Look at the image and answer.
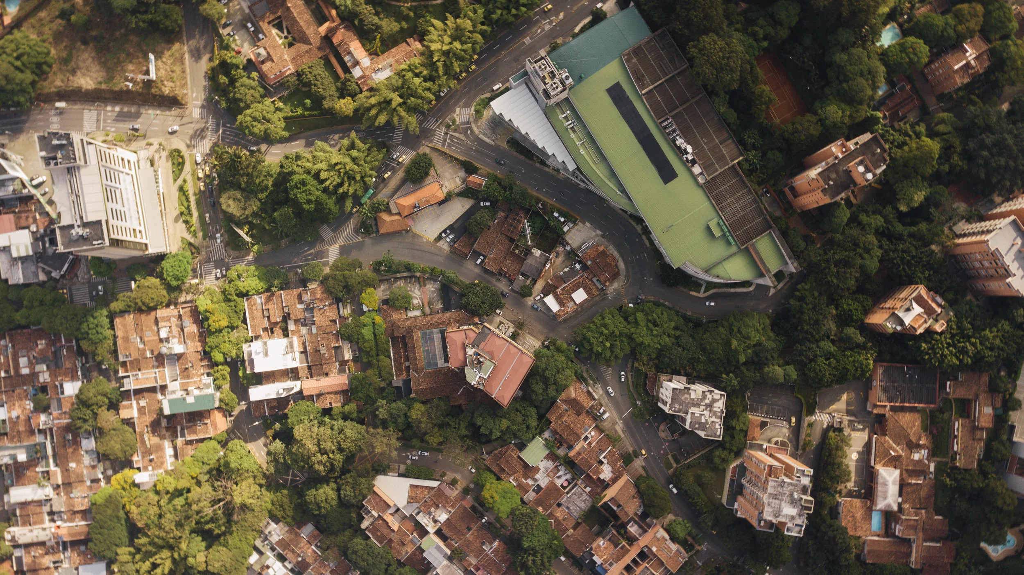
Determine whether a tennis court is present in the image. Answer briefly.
Yes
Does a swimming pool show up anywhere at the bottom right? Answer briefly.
Yes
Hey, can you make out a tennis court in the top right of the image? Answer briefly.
Yes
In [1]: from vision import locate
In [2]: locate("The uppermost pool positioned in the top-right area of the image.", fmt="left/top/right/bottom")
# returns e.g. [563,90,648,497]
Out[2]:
[875,22,903,48]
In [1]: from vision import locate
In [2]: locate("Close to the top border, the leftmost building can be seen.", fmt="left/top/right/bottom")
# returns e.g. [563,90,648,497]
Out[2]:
[248,0,331,88]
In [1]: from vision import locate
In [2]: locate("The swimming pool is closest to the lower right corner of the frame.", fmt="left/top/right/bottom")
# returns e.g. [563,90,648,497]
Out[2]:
[981,525,1024,560]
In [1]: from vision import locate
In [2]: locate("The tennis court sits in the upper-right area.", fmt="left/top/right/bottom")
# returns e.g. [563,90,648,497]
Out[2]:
[757,55,803,119]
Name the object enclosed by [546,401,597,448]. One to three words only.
house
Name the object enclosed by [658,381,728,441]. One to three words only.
building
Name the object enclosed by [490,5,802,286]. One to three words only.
building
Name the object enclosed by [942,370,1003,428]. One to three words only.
house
